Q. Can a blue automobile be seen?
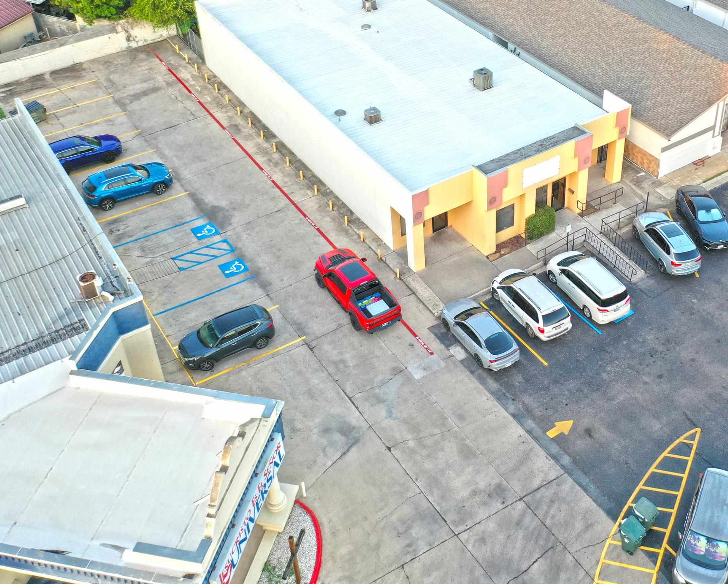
Yes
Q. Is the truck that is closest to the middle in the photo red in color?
Yes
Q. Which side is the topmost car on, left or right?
left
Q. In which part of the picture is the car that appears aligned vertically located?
bottom right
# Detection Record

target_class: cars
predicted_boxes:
[50,124,144,170]
[77,161,177,213]
[664,466,728,584]
[630,208,703,281]
[174,301,280,373]
[489,270,579,351]
[440,300,528,381]
[672,184,728,252]
[542,250,633,327]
